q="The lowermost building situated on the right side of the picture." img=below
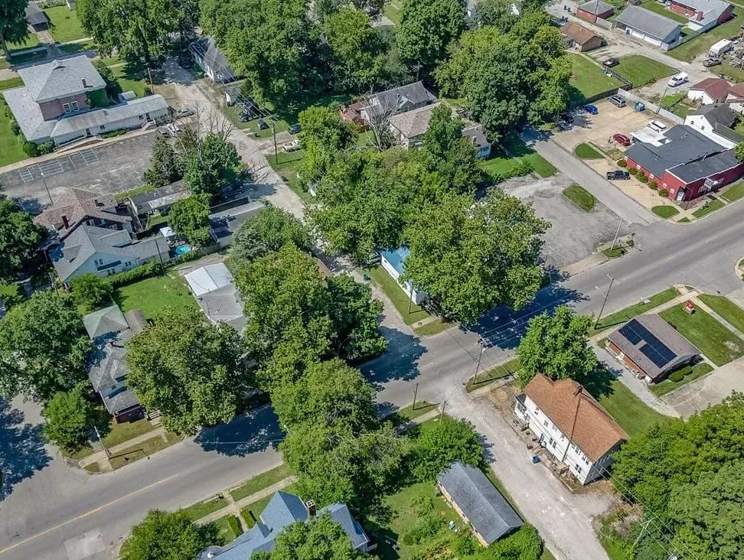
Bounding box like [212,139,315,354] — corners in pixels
[438,468,527,550]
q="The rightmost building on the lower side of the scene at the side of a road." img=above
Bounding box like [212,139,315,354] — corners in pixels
[606,317,702,388]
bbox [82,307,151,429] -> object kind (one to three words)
house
